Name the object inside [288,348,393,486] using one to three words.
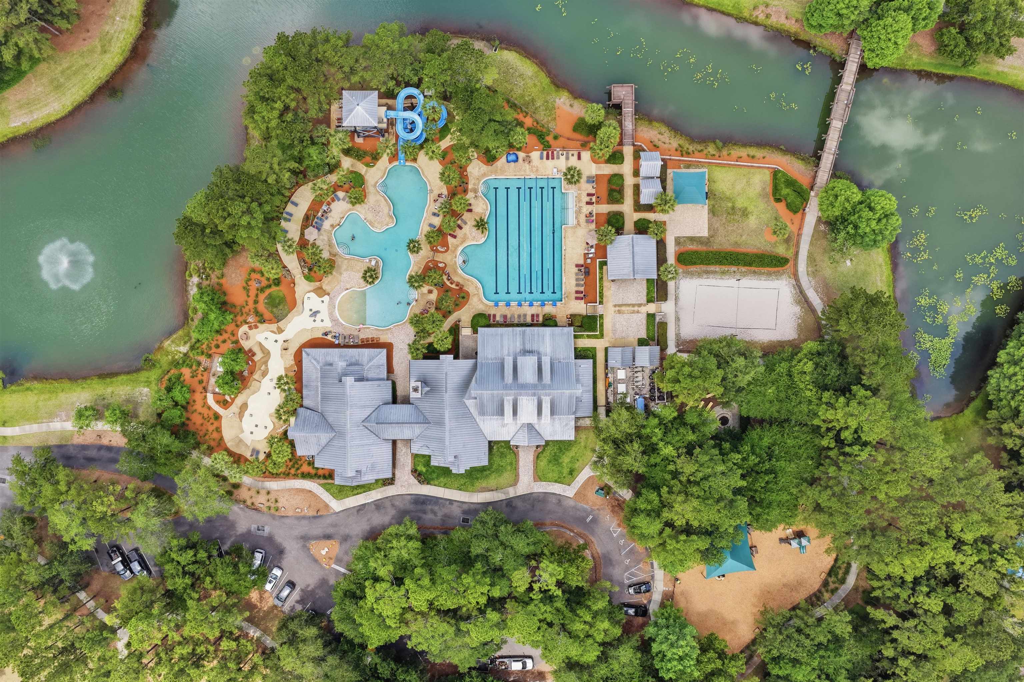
building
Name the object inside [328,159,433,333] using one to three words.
swimming pool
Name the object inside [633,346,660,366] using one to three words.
shed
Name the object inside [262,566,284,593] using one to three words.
car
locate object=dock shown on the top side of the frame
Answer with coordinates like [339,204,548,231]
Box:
[608,82,638,146]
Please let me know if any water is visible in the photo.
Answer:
Yes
